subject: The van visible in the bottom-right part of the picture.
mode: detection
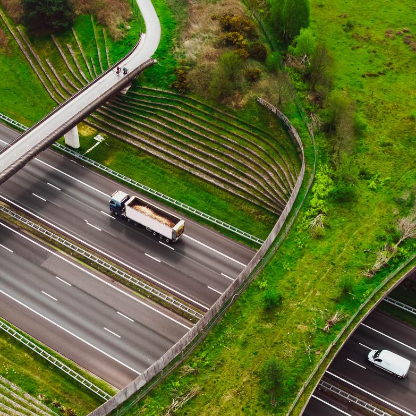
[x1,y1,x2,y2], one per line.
[367,351,413,381]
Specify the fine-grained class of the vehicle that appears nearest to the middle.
truck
